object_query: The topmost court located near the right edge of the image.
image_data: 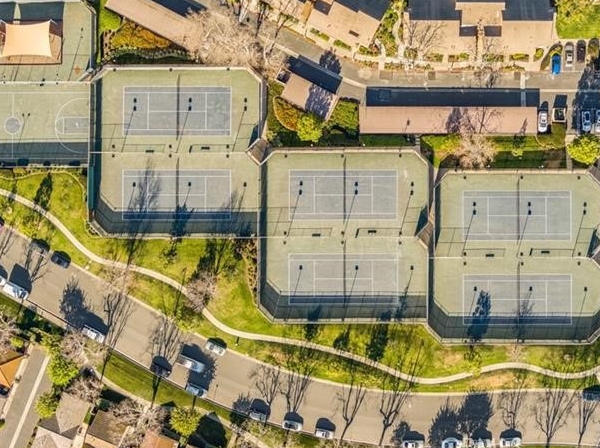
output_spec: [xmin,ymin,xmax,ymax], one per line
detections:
[435,176,600,258]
